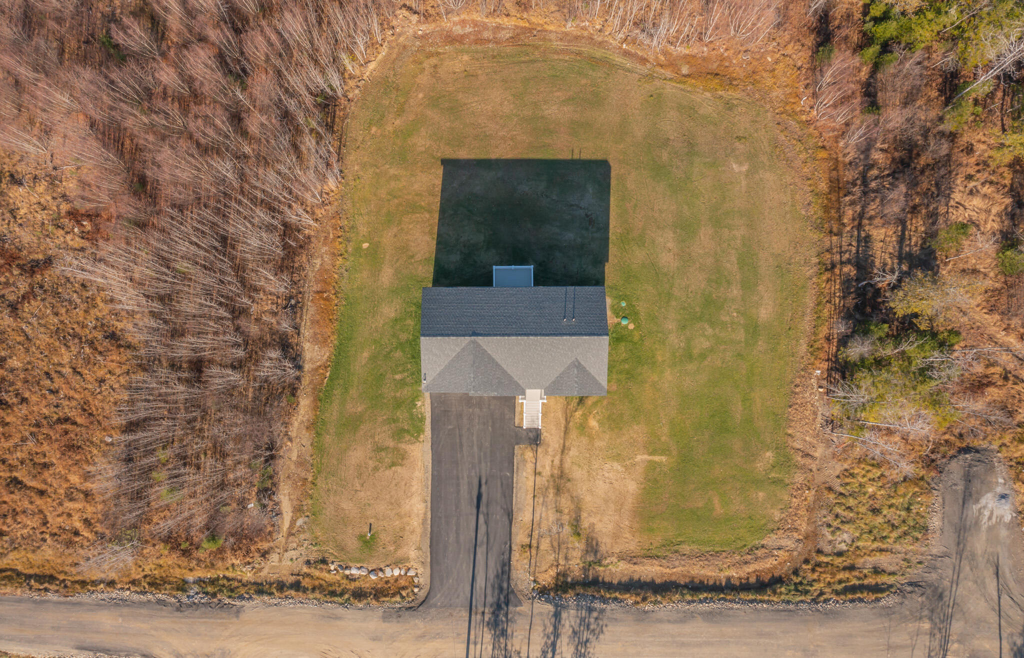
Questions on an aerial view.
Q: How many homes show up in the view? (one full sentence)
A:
The picture shows 1 home.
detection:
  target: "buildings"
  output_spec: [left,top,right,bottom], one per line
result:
[421,265,609,429]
